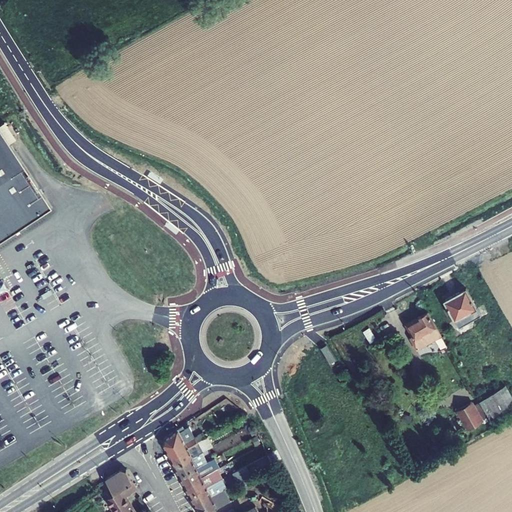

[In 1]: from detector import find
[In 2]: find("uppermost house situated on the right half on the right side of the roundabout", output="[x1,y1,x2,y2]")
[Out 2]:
[444,291,478,324]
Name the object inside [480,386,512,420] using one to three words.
barn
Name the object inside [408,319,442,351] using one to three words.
house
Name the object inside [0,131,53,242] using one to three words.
building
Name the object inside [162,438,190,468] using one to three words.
house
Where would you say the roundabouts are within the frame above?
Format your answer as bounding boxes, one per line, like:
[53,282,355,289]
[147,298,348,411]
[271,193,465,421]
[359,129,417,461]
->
[171,276,283,396]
